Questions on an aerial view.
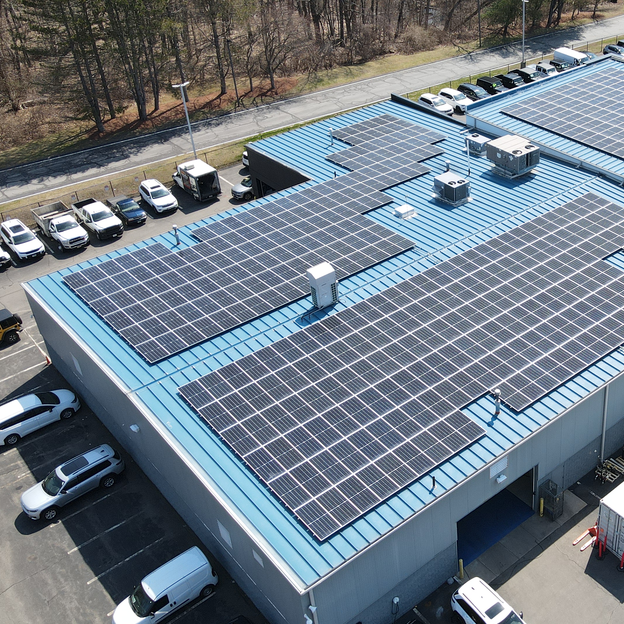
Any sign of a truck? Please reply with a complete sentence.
Yes, I can see a truck in this picture.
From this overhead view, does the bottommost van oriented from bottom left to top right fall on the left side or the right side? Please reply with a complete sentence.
You can find the bottommost van oriented from bottom left to top right on the left side of the picture.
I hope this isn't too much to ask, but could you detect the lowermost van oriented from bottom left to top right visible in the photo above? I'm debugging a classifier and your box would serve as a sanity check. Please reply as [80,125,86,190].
[112,547,220,624]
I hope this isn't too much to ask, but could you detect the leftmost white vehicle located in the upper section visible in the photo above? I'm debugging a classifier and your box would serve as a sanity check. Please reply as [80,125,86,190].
[6,221,51,263]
